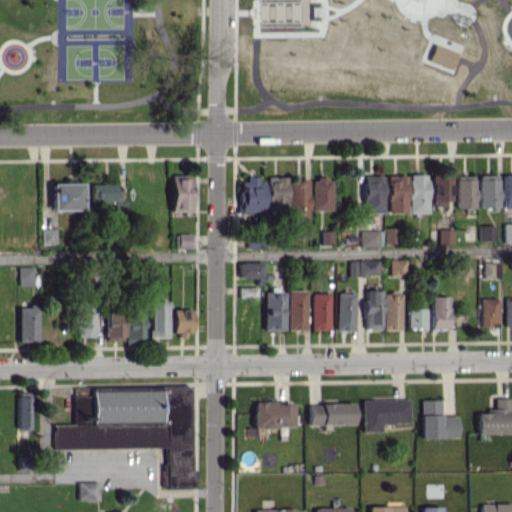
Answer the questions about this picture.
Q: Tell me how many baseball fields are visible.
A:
0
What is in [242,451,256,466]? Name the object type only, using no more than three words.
swimming pool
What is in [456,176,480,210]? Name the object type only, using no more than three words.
house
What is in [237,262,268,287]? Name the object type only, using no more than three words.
building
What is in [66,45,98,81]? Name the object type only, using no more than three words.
basketball court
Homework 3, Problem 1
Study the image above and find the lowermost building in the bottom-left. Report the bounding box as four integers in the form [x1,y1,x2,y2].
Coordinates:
[78,483,102,502]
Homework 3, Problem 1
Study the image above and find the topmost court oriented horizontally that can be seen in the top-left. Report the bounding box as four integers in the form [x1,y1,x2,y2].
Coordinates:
[64,0,130,30]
